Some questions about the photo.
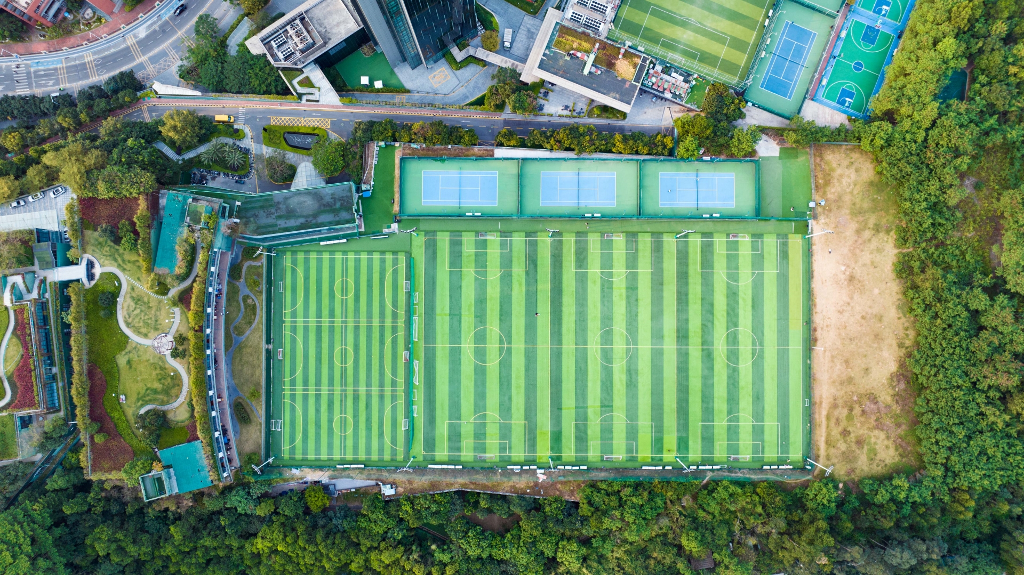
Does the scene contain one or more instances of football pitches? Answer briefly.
Yes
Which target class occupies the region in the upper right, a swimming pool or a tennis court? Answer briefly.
tennis court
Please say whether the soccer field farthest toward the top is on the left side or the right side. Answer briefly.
right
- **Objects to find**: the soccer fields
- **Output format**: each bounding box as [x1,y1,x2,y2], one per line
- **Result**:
[283,324,404,389]
[282,392,404,457]
[609,0,784,86]
[422,232,553,462]
[550,232,679,462]
[676,232,811,462]
[283,256,405,320]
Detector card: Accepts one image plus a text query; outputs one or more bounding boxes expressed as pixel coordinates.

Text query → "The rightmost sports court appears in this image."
[940,69,966,101]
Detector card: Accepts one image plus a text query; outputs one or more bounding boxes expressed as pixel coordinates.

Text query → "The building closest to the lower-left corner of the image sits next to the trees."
[139,467,177,502]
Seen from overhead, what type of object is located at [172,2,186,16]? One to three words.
car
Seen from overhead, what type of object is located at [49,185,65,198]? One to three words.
vehicle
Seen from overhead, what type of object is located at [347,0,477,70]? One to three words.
building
